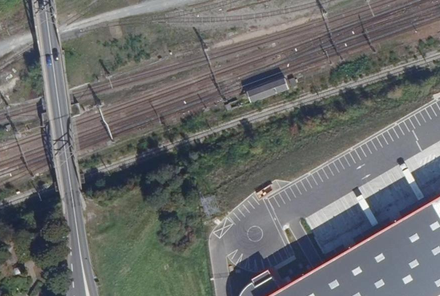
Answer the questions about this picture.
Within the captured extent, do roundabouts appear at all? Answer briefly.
No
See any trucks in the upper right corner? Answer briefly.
No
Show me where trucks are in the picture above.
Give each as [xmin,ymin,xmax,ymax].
[400,164,425,200]
[356,194,382,230]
